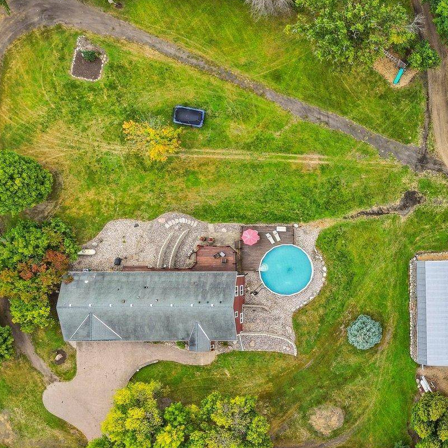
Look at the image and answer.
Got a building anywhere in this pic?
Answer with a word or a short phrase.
Yes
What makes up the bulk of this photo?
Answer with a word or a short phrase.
grass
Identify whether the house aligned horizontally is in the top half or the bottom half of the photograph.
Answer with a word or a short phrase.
bottom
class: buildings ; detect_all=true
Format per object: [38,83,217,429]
[415,258,448,366]
[53,272,245,352]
